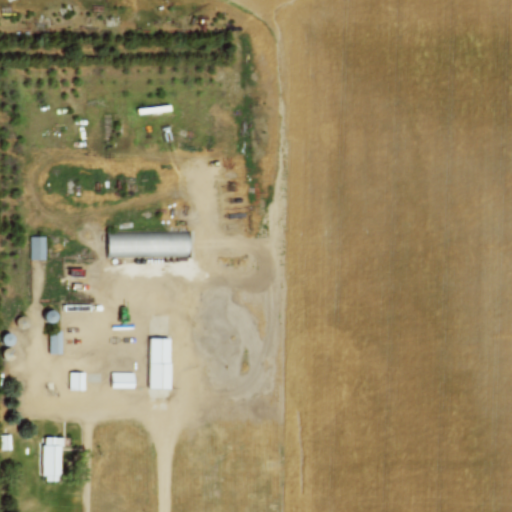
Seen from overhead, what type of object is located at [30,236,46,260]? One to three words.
shed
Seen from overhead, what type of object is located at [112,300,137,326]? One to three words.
work vehicle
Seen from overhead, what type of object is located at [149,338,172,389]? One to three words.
barn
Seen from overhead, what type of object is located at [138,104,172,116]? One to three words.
house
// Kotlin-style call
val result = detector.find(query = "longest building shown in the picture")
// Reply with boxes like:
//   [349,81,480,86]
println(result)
[108,234,192,258]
